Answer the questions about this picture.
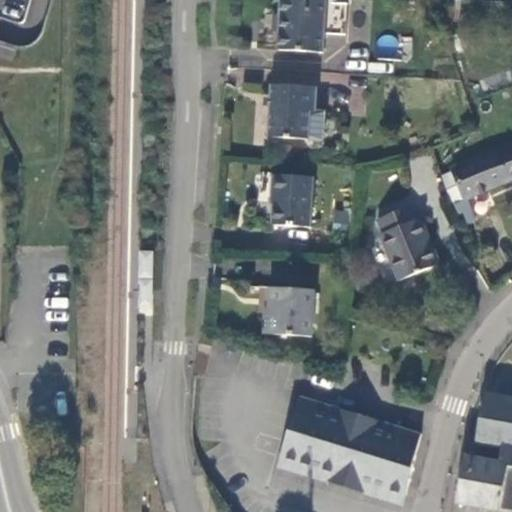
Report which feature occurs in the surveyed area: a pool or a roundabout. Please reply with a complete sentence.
This aerial view contains a pool.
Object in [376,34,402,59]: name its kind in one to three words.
swimming pool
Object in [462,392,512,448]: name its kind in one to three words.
building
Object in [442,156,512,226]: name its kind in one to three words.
house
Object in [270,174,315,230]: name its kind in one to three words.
house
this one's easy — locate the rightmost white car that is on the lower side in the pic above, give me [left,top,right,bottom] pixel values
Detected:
[310,378,333,392]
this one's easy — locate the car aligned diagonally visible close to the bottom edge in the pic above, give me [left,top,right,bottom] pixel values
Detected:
[230,473,250,492]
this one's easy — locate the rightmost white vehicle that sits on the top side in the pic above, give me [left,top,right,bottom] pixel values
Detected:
[368,62,394,74]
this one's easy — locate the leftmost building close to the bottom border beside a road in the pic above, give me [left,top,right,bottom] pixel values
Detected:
[278,398,422,502]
